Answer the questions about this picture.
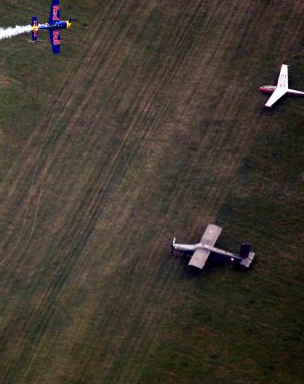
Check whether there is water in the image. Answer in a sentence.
No, the picture contains no water.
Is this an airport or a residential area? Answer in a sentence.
What you see here is an airport.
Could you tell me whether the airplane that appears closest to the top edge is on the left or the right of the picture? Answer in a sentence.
The airplane that appears closest to the top edge sits on the left side.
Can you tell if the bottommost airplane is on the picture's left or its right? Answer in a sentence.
The bottommost airplane appears in the right half of the scene.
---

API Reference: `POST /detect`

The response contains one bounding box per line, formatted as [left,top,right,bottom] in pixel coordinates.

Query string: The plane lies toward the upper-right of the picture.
[260,66,304,105]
